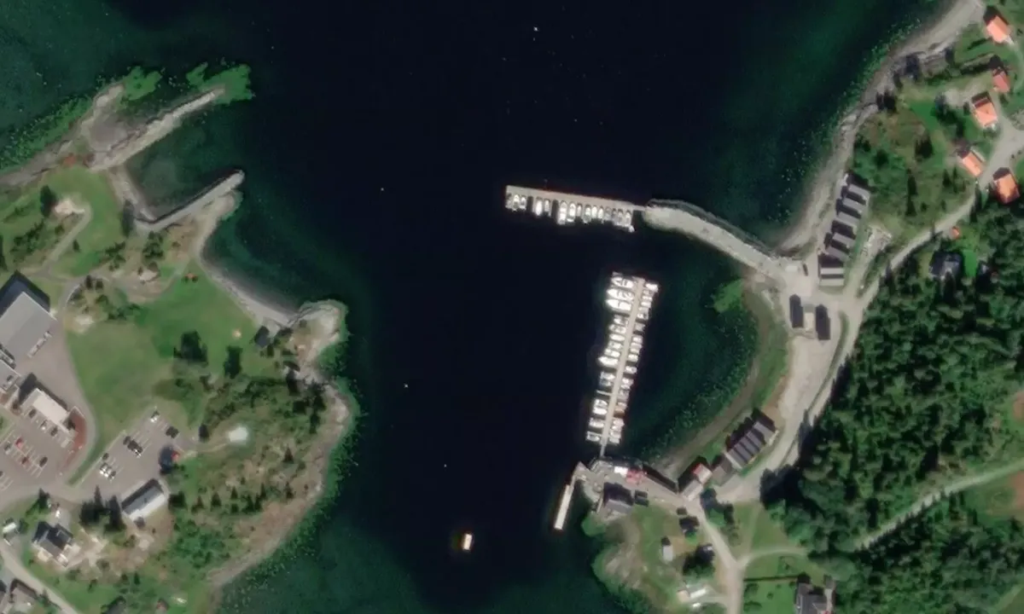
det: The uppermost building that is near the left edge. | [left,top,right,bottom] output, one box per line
[0,292,56,364]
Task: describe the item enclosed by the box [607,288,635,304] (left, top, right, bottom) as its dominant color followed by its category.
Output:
white boat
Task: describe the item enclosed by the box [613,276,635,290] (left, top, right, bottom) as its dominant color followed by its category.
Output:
white boat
